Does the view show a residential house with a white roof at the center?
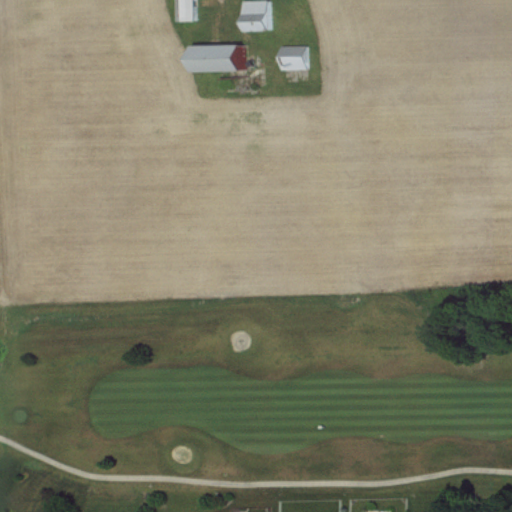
No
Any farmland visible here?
Yes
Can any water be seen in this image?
No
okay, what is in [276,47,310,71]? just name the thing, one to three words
house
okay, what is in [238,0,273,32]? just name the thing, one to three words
house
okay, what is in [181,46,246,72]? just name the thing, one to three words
barn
